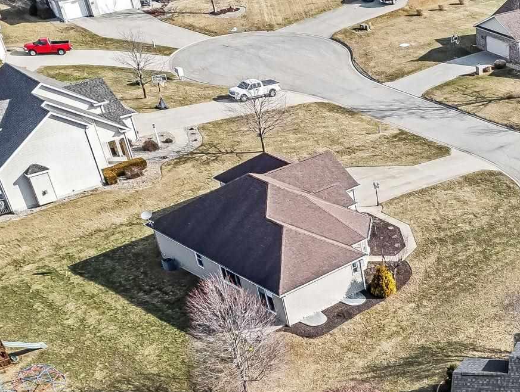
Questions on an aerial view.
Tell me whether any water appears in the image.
No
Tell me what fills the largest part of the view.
grass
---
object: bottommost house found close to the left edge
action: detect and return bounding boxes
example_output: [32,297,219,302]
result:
[0,58,137,213]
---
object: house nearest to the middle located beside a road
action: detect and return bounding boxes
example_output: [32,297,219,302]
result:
[136,144,388,323]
